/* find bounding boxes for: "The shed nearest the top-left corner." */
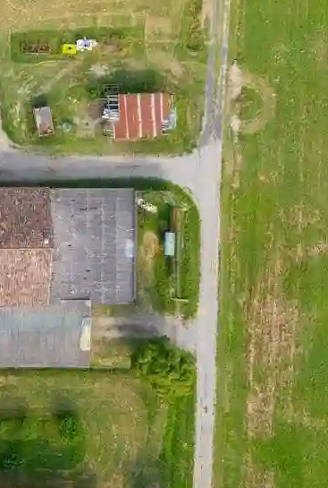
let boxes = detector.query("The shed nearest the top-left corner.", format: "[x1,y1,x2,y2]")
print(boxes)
[35,106,55,136]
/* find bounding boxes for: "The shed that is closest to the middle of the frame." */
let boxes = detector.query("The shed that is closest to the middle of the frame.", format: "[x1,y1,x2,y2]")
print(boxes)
[49,187,136,303]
